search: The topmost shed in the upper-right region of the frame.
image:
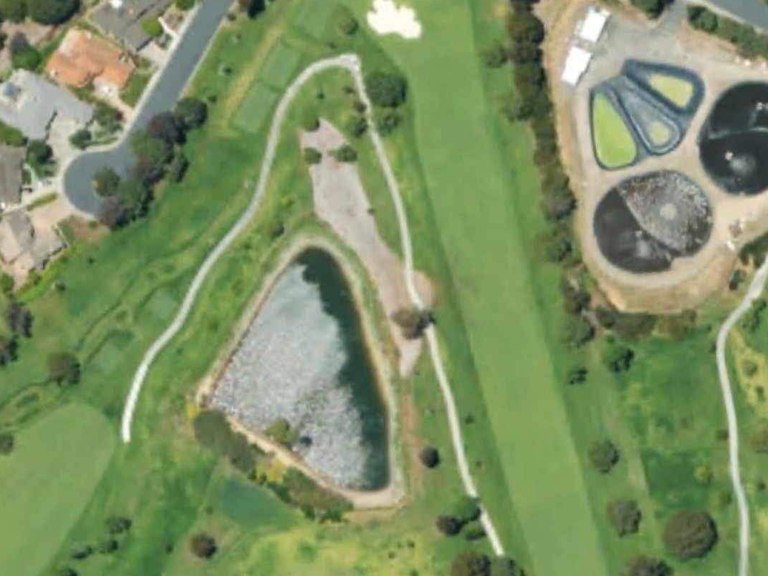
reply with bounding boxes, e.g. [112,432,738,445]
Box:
[580,9,610,42]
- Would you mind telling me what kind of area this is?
golf course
